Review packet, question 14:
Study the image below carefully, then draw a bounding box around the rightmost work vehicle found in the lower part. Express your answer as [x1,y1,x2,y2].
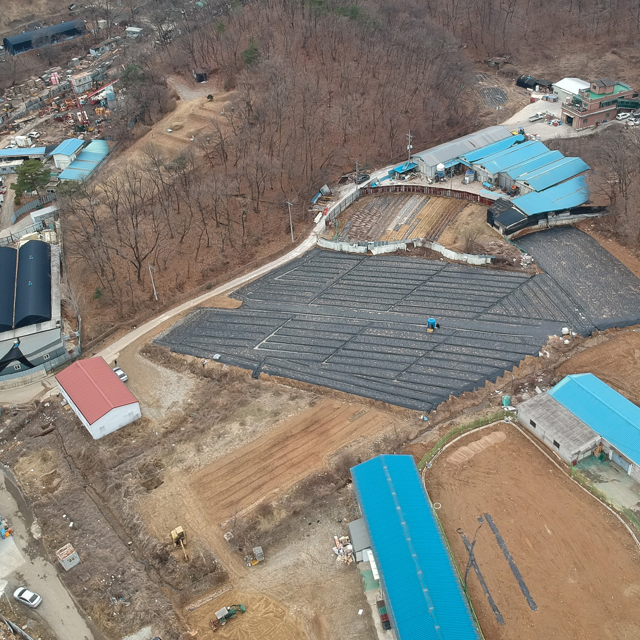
[205,601,250,634]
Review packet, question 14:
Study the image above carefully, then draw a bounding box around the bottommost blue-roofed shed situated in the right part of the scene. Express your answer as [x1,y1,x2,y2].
[350,452,480,640]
